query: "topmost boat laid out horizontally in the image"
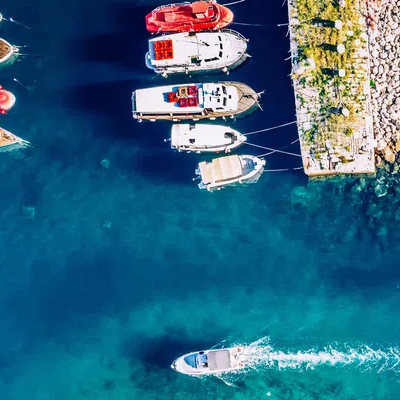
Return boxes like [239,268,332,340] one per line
[145,0,235,34]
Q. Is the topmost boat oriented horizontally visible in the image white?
No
